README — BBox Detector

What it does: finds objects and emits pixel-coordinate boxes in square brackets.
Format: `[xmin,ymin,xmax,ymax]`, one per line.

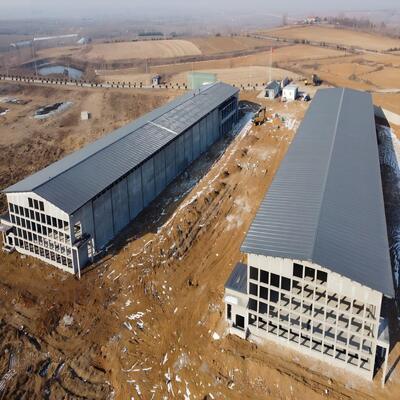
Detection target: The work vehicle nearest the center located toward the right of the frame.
[250,105,268,123]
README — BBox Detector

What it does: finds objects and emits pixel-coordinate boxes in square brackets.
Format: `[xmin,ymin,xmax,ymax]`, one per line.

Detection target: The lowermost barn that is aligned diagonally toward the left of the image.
[0,81,240,278]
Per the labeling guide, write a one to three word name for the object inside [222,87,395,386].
barn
